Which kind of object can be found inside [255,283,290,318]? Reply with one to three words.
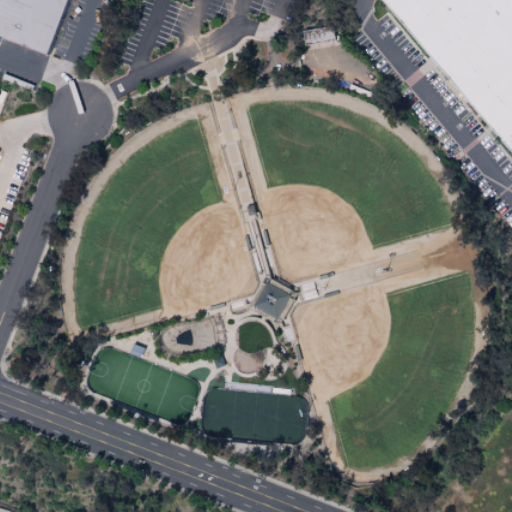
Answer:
building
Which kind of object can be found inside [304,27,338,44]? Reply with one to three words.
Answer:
building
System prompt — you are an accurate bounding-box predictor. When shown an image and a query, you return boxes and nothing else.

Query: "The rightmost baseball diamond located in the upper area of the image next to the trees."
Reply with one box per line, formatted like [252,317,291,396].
[247,100,452,281]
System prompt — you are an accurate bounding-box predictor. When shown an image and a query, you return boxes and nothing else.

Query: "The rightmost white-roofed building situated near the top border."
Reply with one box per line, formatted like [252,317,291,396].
[382,0,512,150]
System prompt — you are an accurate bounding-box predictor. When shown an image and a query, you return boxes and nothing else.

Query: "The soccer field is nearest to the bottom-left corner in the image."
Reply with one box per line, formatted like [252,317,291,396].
[87,346,199,426]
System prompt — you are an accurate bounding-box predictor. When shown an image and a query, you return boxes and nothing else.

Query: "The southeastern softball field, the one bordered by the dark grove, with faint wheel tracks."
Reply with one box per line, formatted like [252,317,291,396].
[298,271,475,470]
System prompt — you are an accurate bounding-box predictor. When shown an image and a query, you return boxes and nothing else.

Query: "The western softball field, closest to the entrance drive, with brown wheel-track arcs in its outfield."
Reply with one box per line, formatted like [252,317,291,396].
[74,119,259,328]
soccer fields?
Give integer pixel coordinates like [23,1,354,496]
[202,389,308,444]
[87,346,199,426]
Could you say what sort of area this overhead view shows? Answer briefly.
sports ground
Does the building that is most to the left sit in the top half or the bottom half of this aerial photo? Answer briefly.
top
